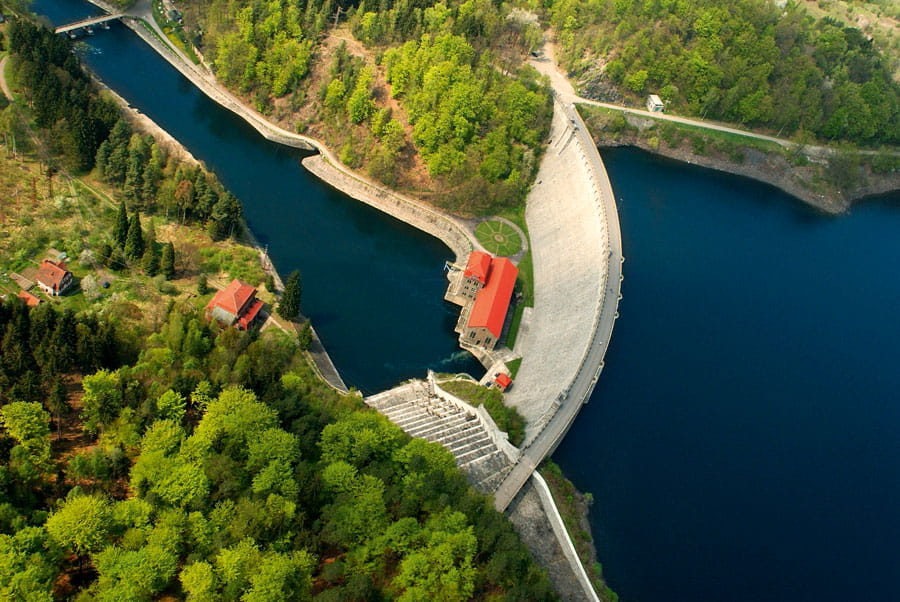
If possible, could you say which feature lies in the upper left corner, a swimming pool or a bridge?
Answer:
bridge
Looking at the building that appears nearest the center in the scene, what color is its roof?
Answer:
red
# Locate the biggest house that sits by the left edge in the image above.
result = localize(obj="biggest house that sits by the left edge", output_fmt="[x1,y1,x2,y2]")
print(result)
[34,262,77,296]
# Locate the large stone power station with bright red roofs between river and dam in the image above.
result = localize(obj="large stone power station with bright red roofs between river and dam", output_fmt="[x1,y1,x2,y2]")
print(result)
[450,249,519,351]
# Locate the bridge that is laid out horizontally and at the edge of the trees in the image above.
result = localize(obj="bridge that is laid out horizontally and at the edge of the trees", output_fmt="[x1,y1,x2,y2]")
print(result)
[54,11,127,42]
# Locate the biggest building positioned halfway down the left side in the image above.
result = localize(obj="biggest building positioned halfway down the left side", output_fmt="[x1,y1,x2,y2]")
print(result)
[203,282,265,337]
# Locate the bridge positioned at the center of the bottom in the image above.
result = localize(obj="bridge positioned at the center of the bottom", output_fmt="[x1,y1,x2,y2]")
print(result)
[485,453,535,519]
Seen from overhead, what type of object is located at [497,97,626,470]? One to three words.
dam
